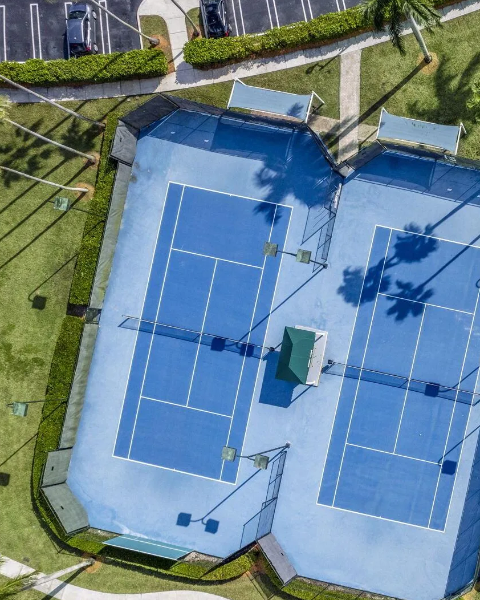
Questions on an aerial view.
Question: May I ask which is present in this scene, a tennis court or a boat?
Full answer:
There is a tennis court in the scene.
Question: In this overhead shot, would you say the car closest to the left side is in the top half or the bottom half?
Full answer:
The car closest to the left side is in the top half of the image.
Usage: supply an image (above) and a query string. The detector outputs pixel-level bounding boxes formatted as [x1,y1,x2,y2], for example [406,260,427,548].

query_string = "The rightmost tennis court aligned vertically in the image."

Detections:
[271,151,480,600]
